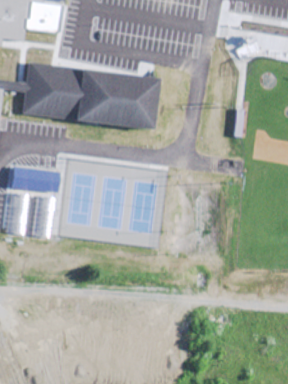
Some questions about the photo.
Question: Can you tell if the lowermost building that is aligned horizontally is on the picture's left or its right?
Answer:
left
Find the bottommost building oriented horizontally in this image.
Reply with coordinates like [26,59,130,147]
[12,168,60,192]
